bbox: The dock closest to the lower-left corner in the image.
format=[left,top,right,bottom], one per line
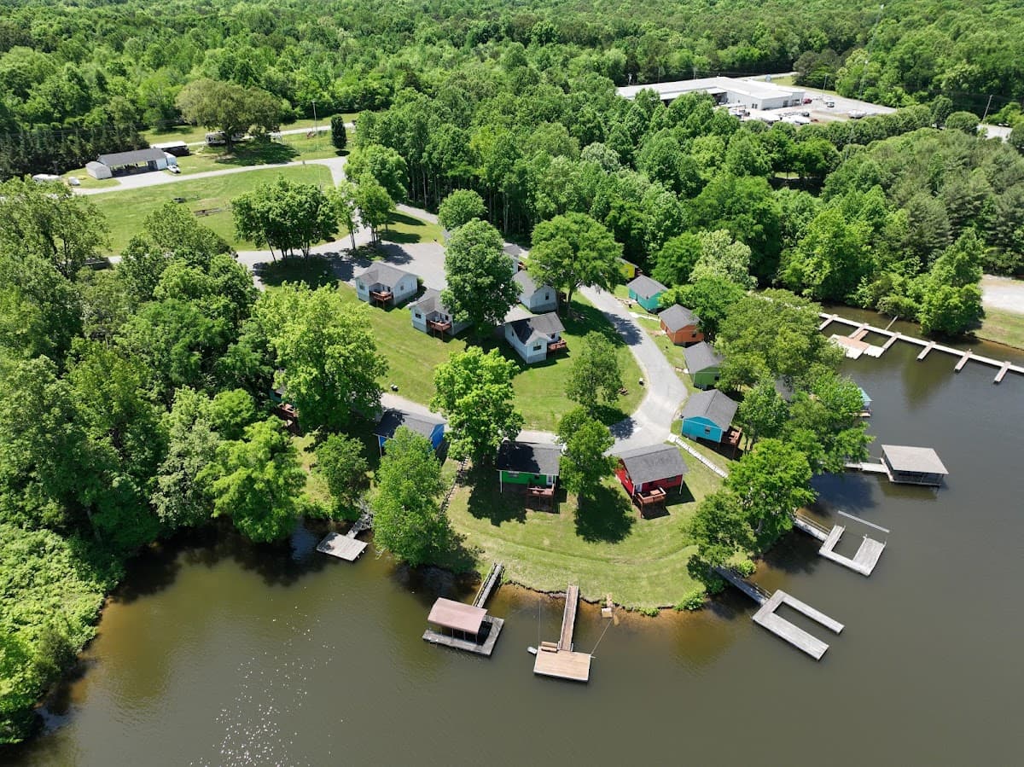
[317,504,373,562]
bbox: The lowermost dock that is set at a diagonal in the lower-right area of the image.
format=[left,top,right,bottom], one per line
[719,564,844,660]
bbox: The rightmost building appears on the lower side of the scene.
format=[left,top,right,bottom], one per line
[879,444,948,489]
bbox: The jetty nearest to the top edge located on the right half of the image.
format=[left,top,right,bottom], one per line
[741,290,1024,386]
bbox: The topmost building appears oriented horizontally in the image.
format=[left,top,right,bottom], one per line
[624,79,814,112]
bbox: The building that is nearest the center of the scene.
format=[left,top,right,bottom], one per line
[494,313,566,364]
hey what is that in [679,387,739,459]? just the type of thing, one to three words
building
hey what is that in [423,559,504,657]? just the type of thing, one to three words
pier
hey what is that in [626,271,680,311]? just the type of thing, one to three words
building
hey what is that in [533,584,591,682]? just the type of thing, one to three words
pier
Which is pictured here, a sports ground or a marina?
marina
